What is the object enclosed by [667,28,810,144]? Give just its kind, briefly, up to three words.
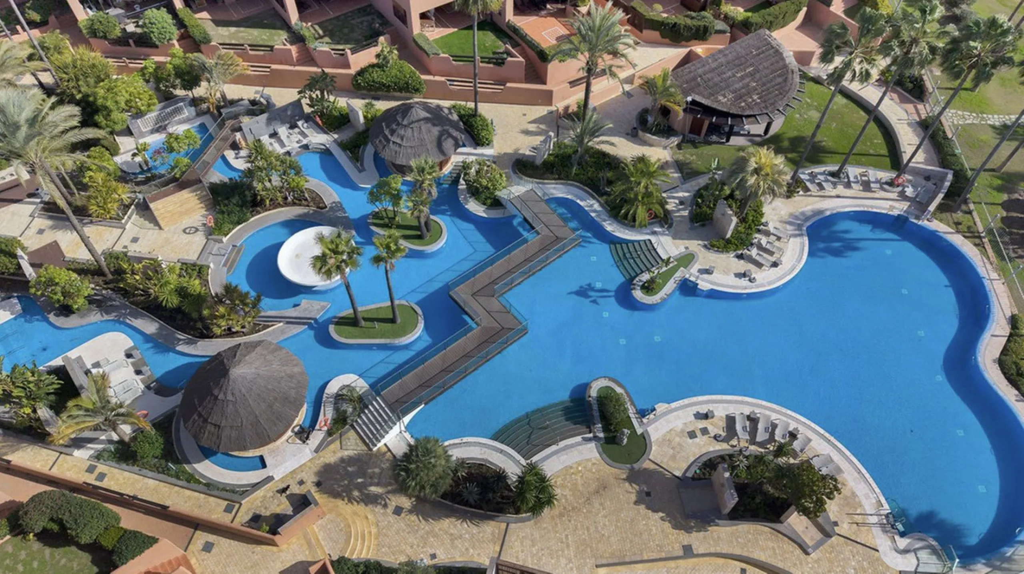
building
